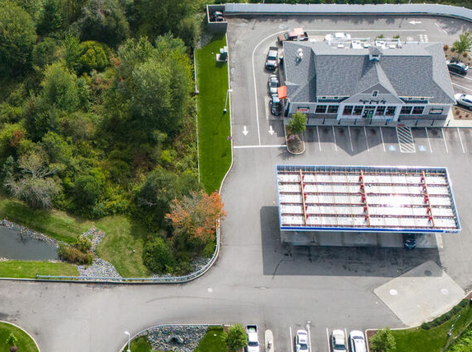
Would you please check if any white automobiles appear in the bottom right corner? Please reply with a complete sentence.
Yes, a white automobile shows up in the bottom right corner.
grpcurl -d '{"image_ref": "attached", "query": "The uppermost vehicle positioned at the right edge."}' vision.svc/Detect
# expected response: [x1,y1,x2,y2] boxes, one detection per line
[445,60,471,75]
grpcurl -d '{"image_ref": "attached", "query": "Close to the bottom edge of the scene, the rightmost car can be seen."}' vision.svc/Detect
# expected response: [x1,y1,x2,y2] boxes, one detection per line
[350,332,367,352]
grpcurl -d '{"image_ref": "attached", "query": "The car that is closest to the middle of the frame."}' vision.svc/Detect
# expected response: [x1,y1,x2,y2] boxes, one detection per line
[270,96,283,115]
